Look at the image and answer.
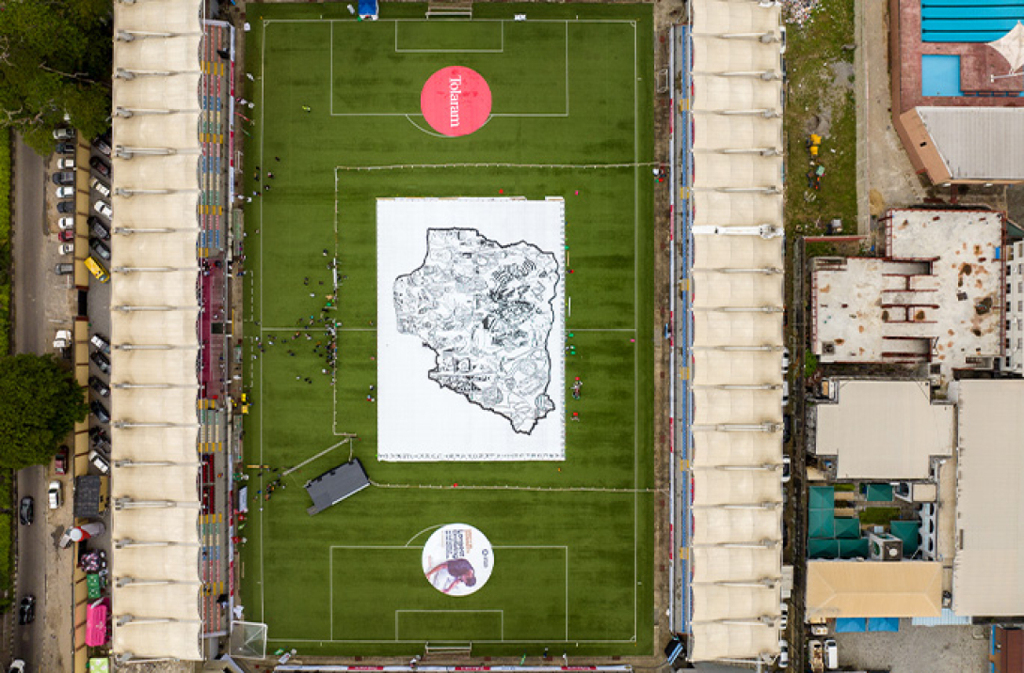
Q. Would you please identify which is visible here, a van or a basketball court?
van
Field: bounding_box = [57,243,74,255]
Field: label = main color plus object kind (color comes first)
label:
white vehicle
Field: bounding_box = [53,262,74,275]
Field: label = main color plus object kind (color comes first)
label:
gray vehicle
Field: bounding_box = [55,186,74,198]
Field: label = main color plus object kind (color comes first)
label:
white vehicle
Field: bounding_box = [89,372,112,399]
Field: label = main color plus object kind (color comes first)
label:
black car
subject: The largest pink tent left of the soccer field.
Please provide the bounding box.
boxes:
[86,599,112,646]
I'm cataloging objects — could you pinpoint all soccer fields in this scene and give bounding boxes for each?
[244,2,653,657]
